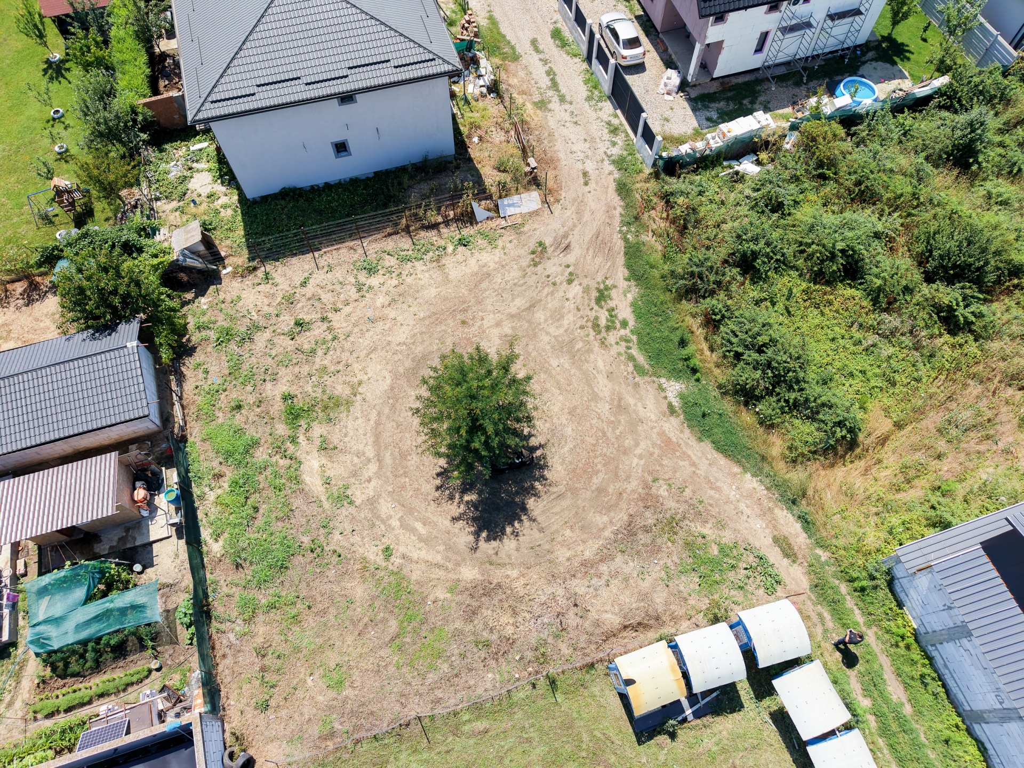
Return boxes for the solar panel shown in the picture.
[77,719,128,753]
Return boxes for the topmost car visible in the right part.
[597,10,648,67]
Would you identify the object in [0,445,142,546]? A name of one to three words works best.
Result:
shed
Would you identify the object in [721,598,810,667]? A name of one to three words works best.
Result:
building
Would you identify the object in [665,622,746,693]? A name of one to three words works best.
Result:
building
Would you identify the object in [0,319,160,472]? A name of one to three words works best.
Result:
shed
